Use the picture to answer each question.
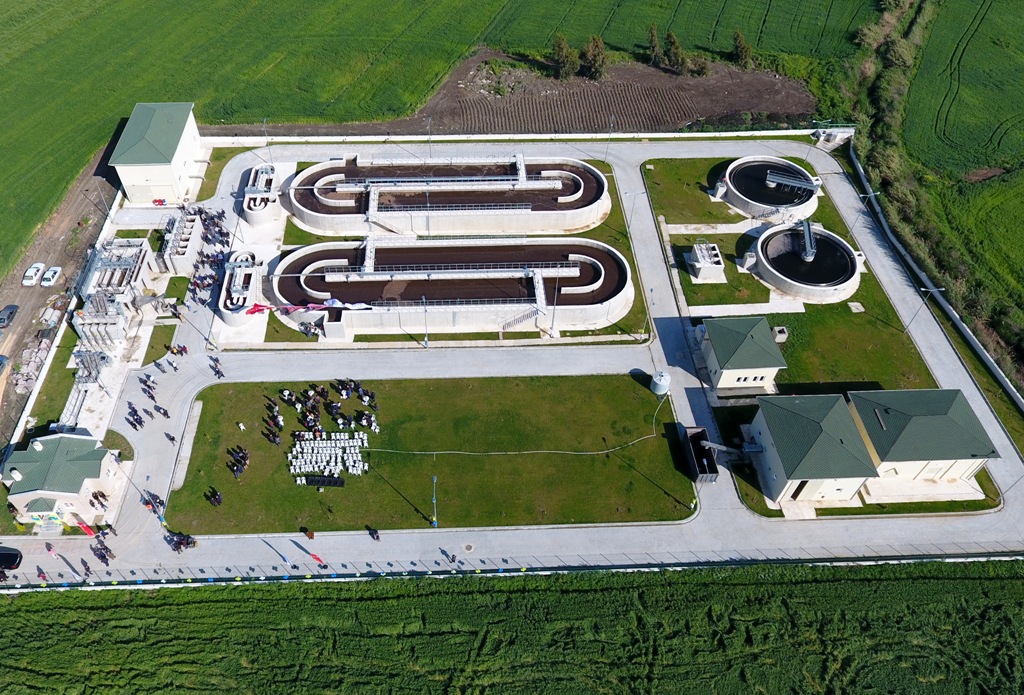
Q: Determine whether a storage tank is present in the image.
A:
Yes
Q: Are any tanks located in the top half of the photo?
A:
Yes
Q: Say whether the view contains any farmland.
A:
Yes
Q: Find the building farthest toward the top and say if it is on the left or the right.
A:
left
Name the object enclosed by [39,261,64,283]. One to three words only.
car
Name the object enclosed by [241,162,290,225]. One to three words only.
storage tank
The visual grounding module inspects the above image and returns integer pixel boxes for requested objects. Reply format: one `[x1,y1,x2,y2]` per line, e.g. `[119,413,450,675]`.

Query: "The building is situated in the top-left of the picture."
[109,103,209,202]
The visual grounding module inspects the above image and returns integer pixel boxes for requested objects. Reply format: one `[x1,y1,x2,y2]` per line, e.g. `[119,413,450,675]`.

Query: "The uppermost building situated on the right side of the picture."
[702,317,787,386]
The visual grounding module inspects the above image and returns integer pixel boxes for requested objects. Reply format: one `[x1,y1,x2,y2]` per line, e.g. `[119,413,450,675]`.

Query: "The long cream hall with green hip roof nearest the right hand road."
[847,388,1002,481]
